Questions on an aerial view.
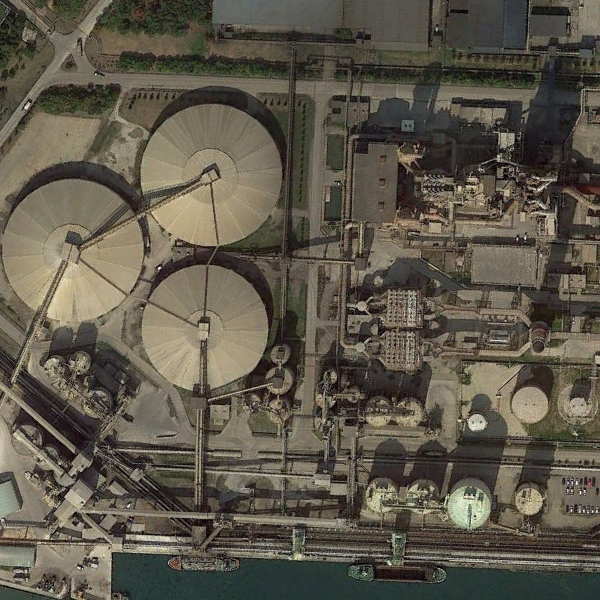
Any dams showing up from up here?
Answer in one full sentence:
No, the scene contains no dam.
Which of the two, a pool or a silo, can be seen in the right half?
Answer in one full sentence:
The one visible in the right half is a silo.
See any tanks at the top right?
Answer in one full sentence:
No, no tank can be made out at the top right.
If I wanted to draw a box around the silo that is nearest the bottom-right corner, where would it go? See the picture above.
[513,481,543,516]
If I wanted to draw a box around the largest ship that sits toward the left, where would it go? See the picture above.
[158,553,246,572]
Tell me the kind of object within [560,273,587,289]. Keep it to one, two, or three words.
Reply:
building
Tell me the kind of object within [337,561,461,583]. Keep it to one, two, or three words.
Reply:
ship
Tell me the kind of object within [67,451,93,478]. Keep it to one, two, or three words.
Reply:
house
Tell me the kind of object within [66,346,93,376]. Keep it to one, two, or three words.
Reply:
silo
